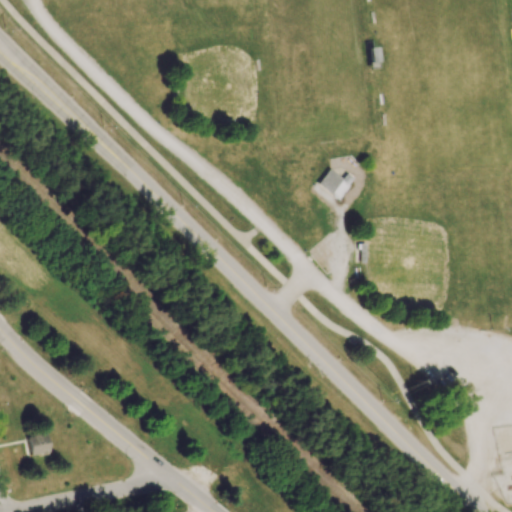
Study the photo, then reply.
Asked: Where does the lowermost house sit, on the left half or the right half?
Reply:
left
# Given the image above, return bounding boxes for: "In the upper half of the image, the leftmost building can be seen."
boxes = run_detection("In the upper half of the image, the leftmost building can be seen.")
[320,169,351,202]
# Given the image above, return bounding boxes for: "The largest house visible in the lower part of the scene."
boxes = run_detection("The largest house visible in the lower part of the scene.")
[22,438,50,459]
